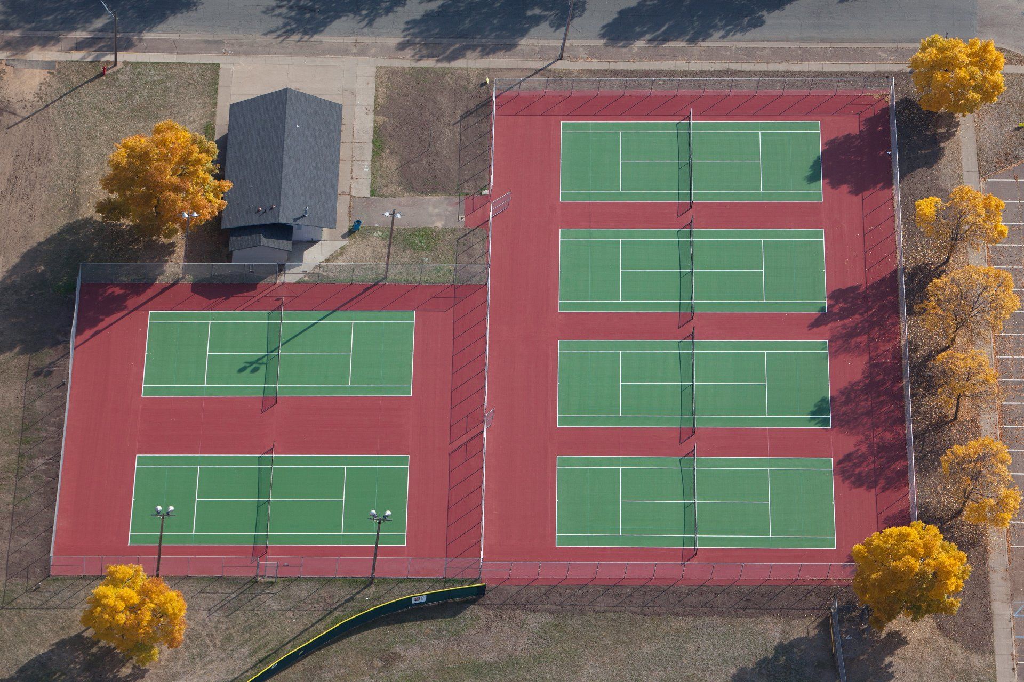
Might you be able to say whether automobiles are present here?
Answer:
No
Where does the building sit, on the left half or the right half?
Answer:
left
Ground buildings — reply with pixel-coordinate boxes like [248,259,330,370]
[221,87,343,271]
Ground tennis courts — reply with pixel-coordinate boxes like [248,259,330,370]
[142,311,415,397]
[129,455,409,545]
[559,228,826,312]
[558,340,831,427]
[557,457,835,548]
[561,121,823,201]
